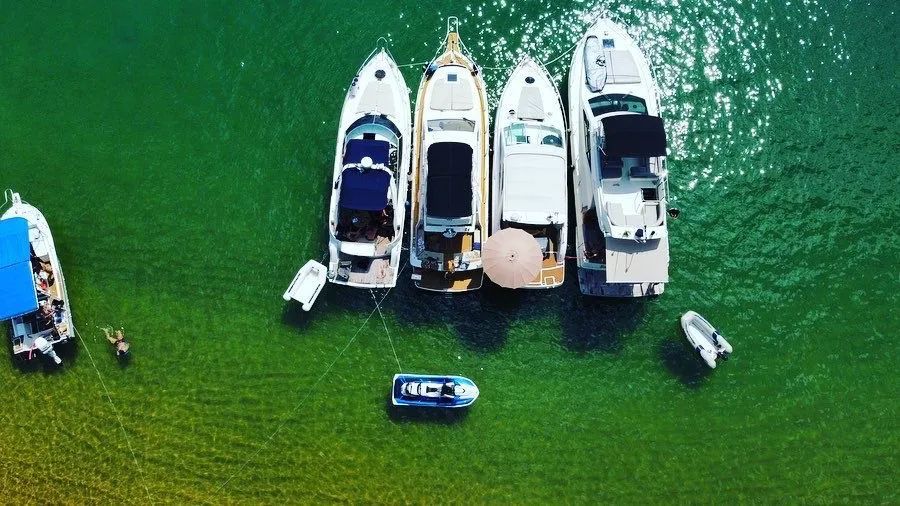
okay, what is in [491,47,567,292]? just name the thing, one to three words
boat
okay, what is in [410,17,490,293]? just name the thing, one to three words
boat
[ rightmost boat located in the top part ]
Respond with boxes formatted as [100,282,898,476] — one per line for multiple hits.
[566,11,675,299]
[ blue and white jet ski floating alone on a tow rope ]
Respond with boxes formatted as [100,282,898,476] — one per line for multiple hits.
[392,374,479,407]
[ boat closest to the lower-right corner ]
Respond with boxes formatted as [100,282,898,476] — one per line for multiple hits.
[681,311,741,373]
